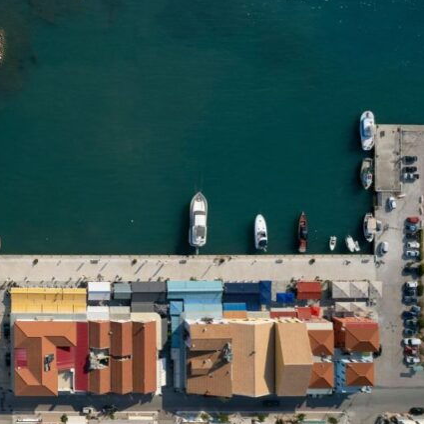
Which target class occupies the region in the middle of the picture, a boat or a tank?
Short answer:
boat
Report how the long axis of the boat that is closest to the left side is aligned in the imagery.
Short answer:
up and down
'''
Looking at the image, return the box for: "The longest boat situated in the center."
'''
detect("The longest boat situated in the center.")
[187,192,208,256]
